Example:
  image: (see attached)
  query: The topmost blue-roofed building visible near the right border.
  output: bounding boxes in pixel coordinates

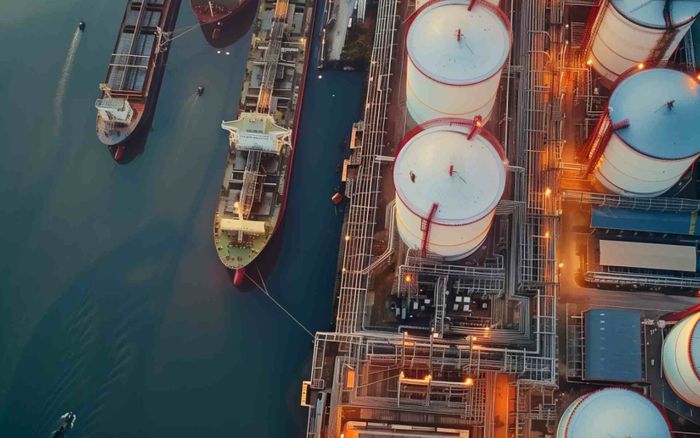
[588,206,700,245]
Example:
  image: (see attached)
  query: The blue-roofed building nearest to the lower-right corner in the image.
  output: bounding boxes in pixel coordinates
[580,311,643,385]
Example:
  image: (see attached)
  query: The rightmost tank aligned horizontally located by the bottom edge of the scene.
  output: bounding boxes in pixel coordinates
[550,385,675,438]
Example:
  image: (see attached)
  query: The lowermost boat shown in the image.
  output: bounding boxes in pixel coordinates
[53,411,73,433]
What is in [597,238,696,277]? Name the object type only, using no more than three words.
building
